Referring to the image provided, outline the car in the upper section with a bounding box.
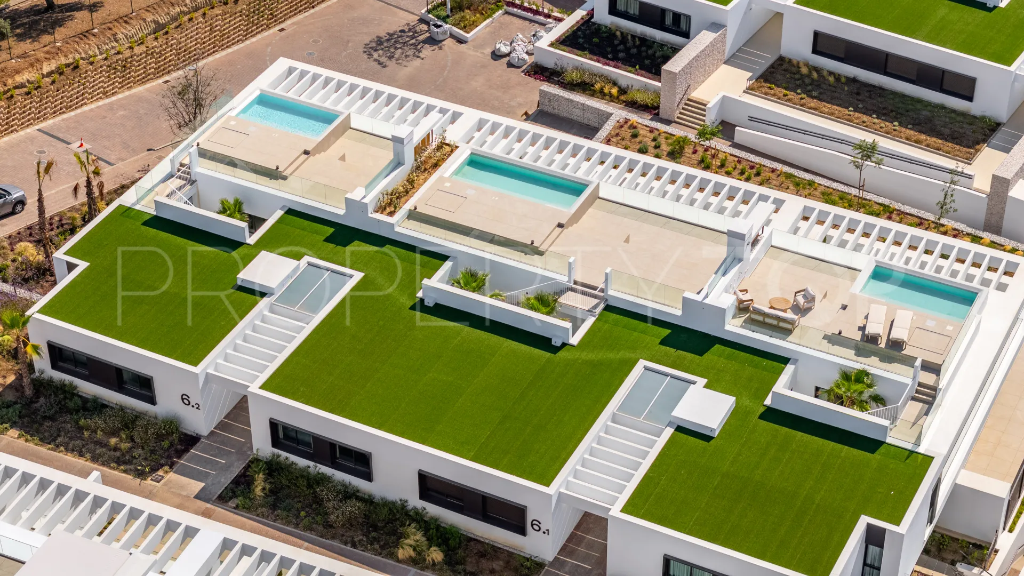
[0,175,28,216]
